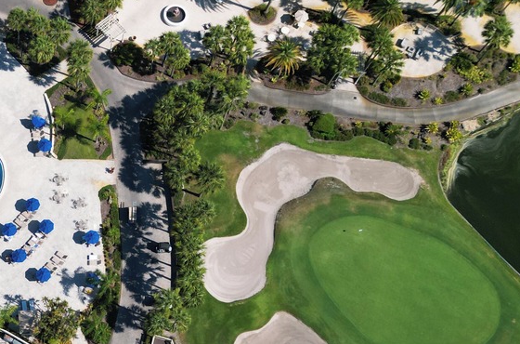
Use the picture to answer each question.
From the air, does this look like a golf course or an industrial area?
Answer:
golf course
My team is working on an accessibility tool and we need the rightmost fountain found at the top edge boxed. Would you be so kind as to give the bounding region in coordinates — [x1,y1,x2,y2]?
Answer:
[162,3,186,26]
